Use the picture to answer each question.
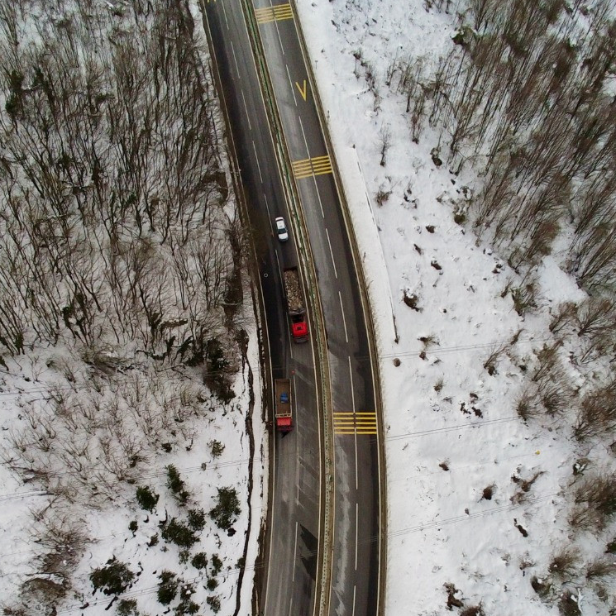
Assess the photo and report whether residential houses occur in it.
No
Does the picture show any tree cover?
Yes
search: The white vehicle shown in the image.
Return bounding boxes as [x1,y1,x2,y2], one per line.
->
[275,219,288,243]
